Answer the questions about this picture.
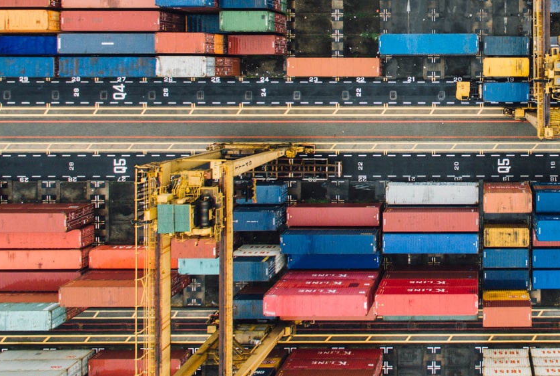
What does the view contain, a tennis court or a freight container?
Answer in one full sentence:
I can see a freight container in this picture.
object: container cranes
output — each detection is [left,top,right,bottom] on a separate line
[128,142,312,376]
[501,0,560,140]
